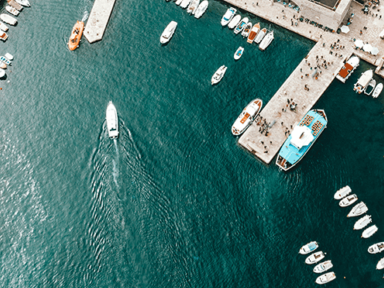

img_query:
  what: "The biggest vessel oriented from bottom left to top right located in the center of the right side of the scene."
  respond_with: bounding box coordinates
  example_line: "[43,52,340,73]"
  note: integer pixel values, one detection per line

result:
[274,107,328,175]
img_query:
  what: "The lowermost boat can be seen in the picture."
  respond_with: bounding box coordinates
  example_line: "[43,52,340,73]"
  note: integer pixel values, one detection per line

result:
[316,268,339,286]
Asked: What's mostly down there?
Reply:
water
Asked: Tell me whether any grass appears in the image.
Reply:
No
